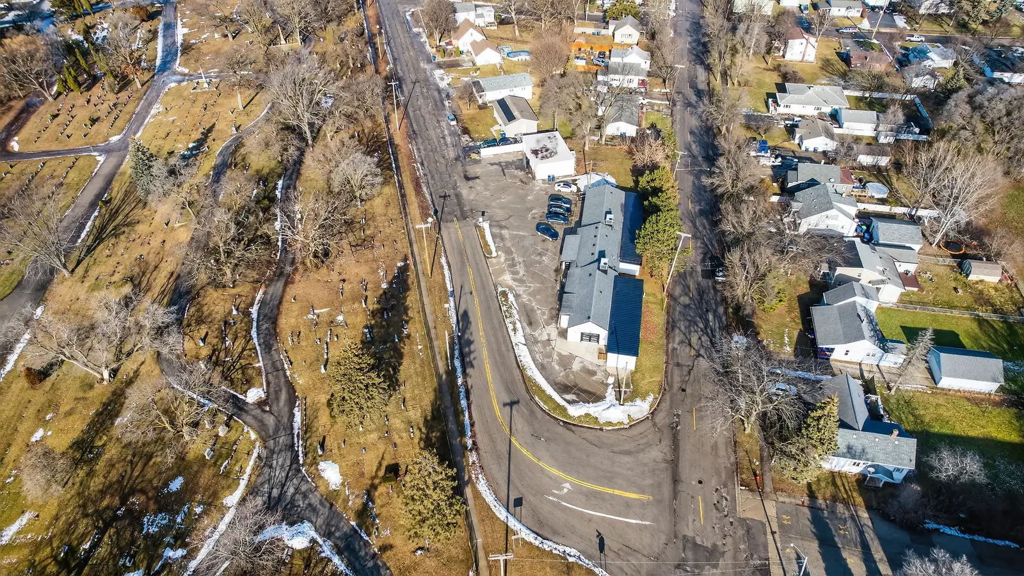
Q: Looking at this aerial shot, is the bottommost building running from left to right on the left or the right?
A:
right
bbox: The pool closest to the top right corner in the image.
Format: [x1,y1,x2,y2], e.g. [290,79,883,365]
[865,181,894,199]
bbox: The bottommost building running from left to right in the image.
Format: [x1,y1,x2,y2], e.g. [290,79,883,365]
[925,349,1014,393]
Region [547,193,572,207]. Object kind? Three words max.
car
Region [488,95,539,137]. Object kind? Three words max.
house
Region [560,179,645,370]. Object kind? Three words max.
building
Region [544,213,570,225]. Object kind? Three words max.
vehicle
